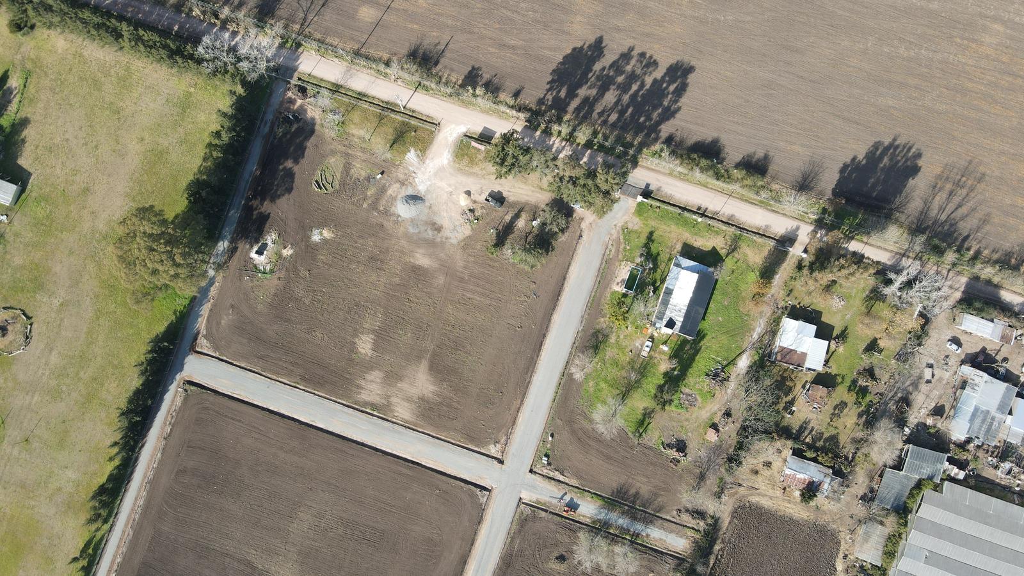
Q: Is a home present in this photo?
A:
Yes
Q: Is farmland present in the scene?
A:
Yes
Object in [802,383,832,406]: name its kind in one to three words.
shed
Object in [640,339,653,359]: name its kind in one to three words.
vehicle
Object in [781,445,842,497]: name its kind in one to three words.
shed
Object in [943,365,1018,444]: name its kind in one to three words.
house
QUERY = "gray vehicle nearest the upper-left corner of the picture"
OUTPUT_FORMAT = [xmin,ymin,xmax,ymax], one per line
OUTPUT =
[483,192,502,208]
